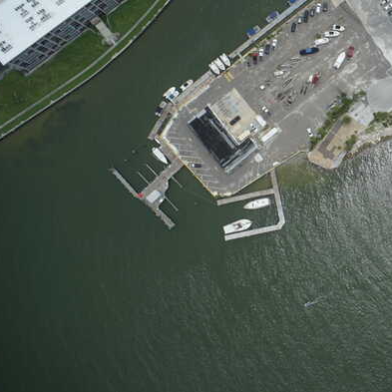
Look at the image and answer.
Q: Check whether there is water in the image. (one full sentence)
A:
Yes, some water is visible.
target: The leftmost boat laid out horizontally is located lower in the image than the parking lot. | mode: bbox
[222,220,252,234]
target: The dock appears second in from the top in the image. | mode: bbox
[147,69,216,138]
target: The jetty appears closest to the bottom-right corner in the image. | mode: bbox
[217,167,286,241]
